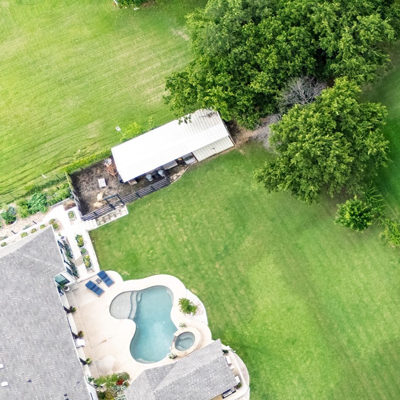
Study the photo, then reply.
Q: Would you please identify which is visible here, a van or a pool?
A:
pool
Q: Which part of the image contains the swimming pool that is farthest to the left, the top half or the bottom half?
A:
bottom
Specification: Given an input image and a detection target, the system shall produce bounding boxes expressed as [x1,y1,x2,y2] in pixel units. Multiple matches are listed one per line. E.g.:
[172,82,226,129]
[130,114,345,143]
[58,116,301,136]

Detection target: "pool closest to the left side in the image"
[106,282,180,367]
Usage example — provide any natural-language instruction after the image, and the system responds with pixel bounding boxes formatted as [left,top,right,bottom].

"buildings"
[125,339,240,400]
[0,224,97,400]
[112,110,231,193]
